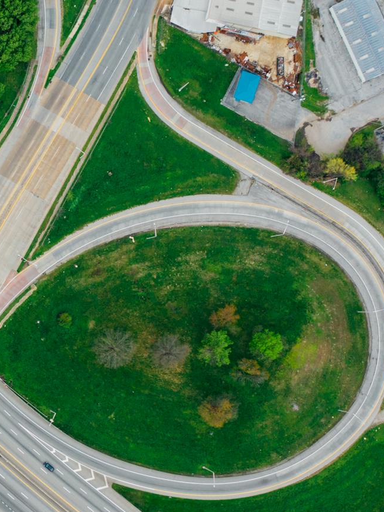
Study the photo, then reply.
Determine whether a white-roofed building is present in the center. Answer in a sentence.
No, I see no white-roofed building in the center.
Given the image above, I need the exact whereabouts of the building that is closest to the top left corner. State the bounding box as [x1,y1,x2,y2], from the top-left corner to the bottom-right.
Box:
[166,0,216,38]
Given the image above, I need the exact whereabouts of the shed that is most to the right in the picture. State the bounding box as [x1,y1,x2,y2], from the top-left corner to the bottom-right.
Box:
[324,0,384,85]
